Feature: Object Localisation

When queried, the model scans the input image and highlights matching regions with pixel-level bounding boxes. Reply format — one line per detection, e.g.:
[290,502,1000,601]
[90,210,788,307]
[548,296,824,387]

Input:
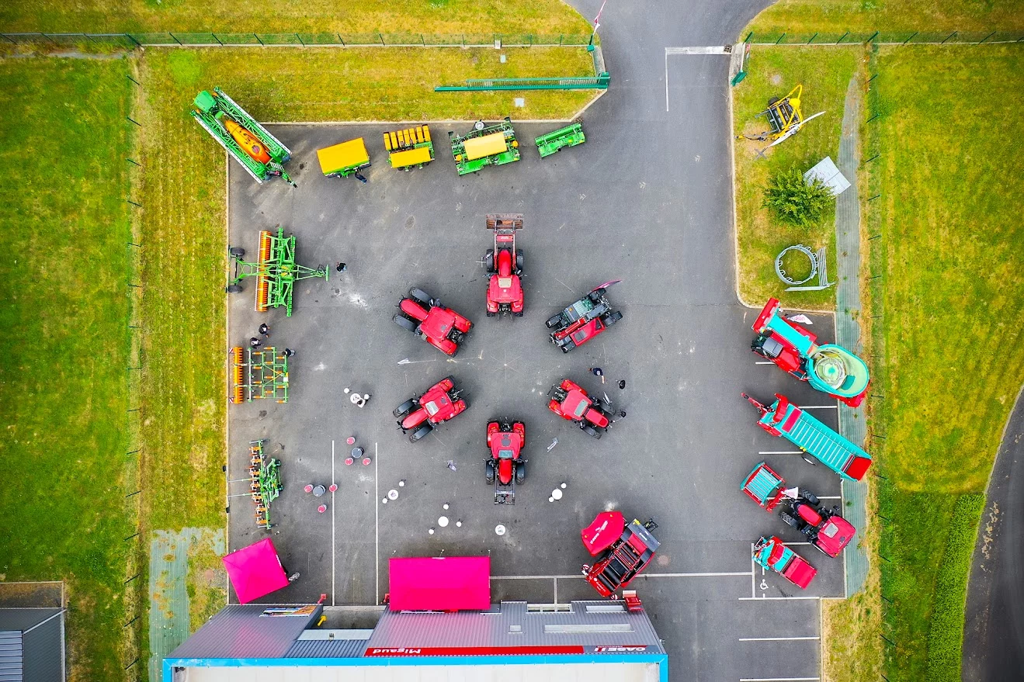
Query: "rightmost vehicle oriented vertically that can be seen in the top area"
[484,220,526,322]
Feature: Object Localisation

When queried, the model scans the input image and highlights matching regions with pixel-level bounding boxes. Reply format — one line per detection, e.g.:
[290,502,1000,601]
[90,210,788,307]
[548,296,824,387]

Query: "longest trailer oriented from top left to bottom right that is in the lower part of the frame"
[740,392,872,484]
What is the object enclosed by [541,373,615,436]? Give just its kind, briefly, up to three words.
work vehicle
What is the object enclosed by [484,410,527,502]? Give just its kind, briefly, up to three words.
work vehicle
